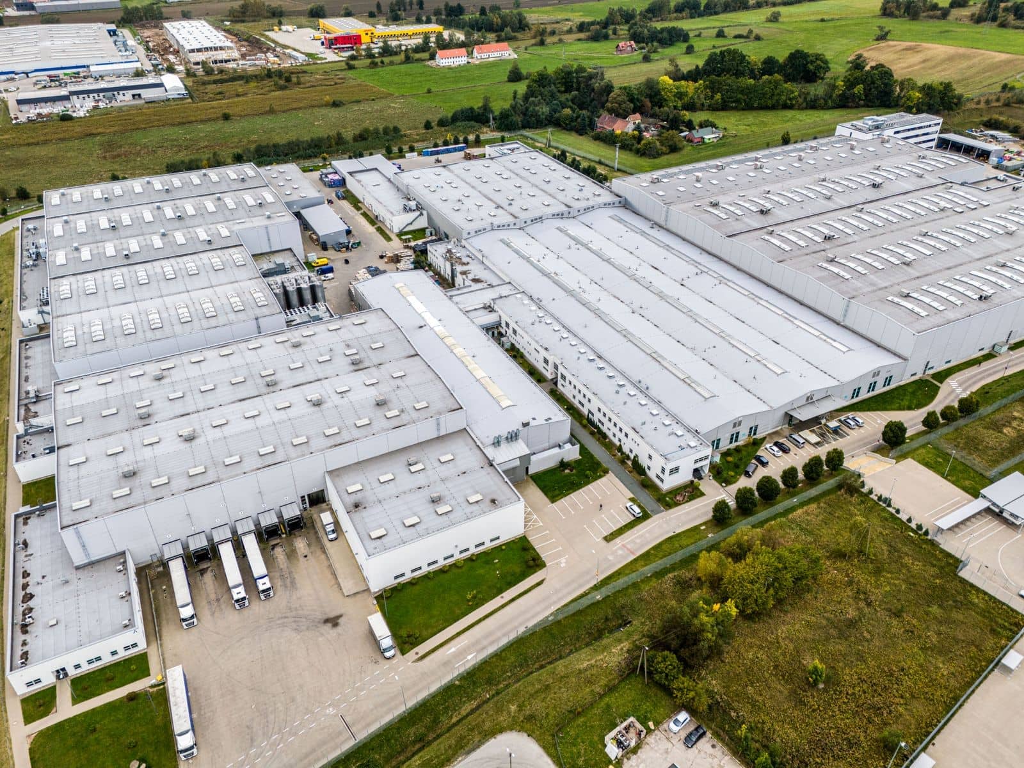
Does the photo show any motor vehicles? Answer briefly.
Yes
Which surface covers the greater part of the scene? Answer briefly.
buildings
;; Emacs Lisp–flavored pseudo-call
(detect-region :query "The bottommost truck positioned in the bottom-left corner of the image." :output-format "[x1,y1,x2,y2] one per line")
[165,662,200,764]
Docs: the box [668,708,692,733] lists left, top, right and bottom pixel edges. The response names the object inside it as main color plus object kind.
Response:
white car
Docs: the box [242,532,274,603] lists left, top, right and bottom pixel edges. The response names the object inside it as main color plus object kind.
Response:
white truck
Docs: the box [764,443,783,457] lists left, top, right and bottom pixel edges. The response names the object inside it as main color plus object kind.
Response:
white car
